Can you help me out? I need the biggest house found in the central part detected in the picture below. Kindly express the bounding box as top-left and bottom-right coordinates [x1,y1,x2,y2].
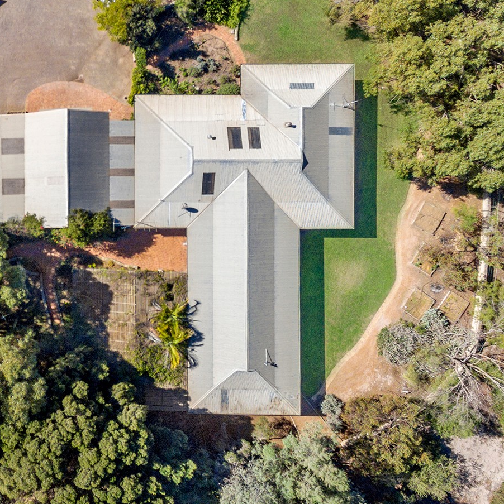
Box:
[133,63,355,416]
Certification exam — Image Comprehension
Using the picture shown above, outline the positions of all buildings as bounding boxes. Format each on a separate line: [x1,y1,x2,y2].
[133,63,355,416]
[24,108,110,228]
